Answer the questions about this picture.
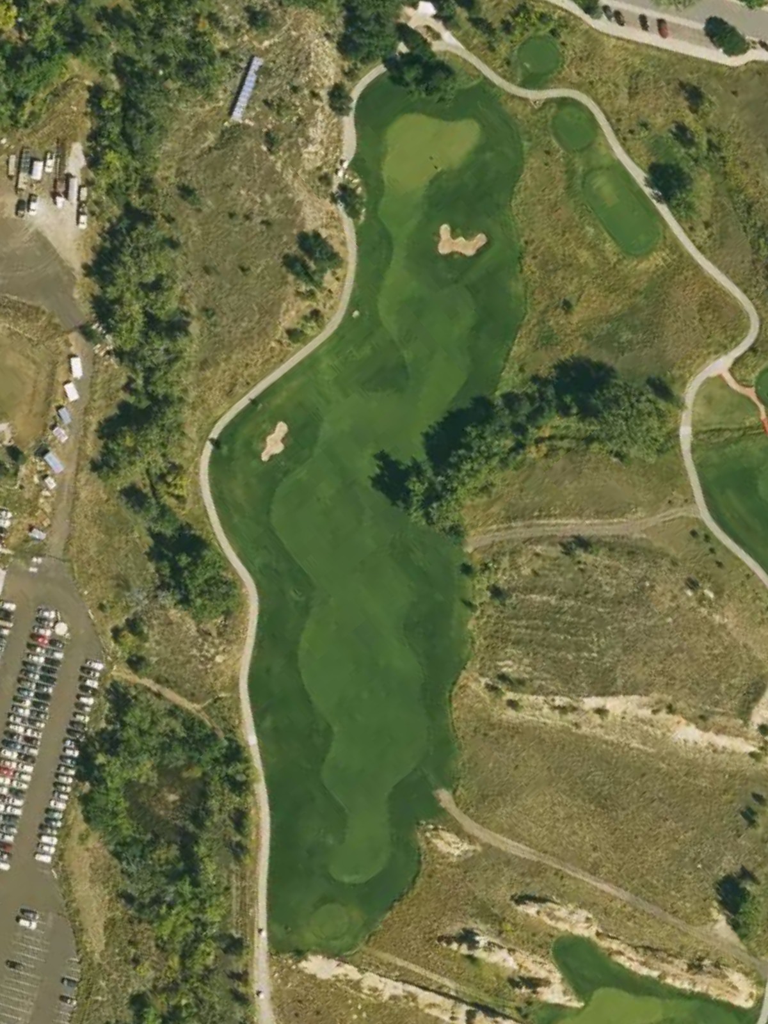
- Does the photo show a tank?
No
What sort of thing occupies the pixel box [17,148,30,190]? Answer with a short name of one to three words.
vehicle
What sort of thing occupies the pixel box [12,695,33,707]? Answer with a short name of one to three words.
vehicle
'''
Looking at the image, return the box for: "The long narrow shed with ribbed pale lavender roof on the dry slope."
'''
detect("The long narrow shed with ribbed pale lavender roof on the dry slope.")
[231,55,265,121]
